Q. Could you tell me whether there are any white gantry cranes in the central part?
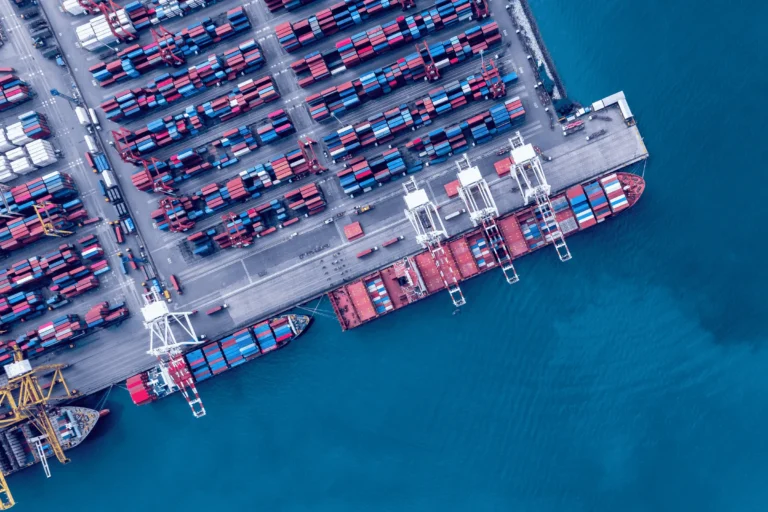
Yes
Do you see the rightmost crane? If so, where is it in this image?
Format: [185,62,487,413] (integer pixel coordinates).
[508,123,578,260]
